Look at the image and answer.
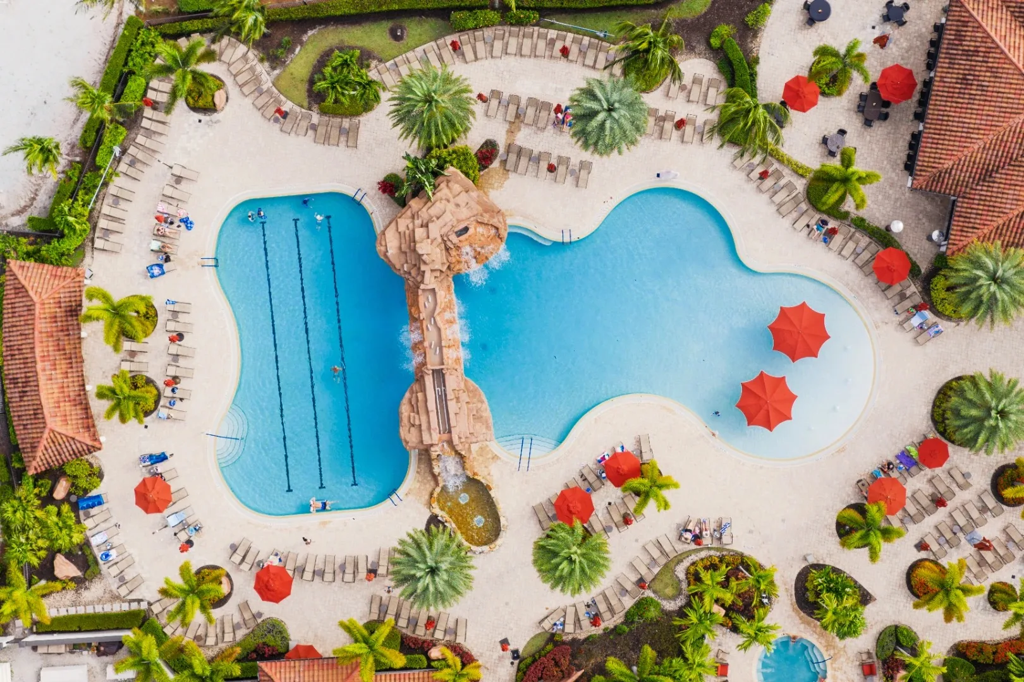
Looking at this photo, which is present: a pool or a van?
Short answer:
pool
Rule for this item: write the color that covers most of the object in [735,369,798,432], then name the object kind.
red umbrella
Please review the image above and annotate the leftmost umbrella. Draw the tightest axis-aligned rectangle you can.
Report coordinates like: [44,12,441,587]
[134,476,172,513]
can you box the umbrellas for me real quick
[783,76,819,112]
[916,437,949,469]
[604,450,641,488]
[876,64,916,104]
[255,565,292,602]
[134,476,172,513]
[867,476,906,511]
[735,369,798,432]
[767,299,831,364]
[286,643,321,659]
[554,486,593,524]
[871,247,910,285]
